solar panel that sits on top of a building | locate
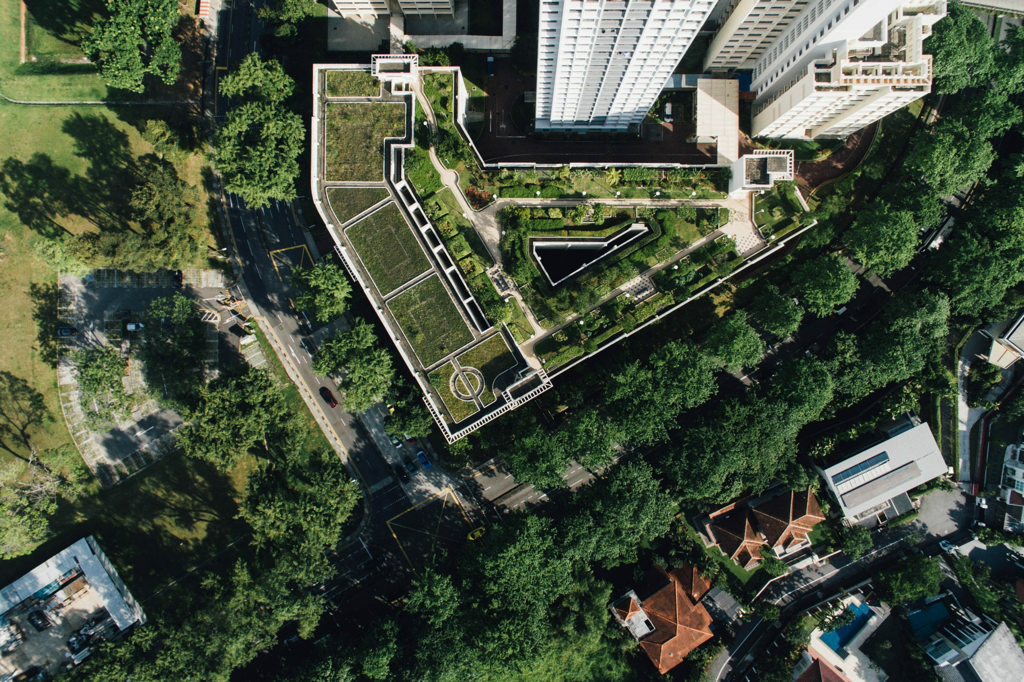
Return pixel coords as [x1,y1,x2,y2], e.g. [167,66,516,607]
[832,451,889,484]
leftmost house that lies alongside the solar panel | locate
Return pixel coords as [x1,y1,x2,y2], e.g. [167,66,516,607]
[692,490,827,571]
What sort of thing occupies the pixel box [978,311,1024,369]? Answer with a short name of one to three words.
house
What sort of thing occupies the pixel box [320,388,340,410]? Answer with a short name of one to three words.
car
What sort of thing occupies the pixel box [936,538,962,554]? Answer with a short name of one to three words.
car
